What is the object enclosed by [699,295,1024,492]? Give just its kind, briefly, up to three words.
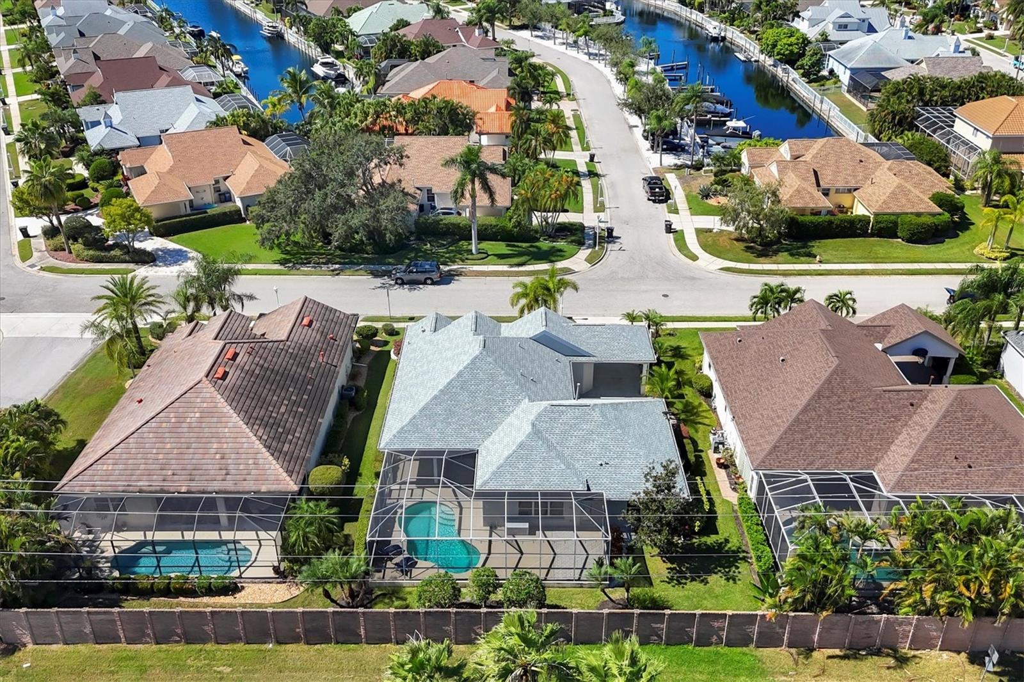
house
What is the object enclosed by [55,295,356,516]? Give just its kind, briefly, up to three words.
house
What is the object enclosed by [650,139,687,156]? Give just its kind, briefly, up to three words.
car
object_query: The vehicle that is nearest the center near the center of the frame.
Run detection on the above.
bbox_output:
[393,262,443,286]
